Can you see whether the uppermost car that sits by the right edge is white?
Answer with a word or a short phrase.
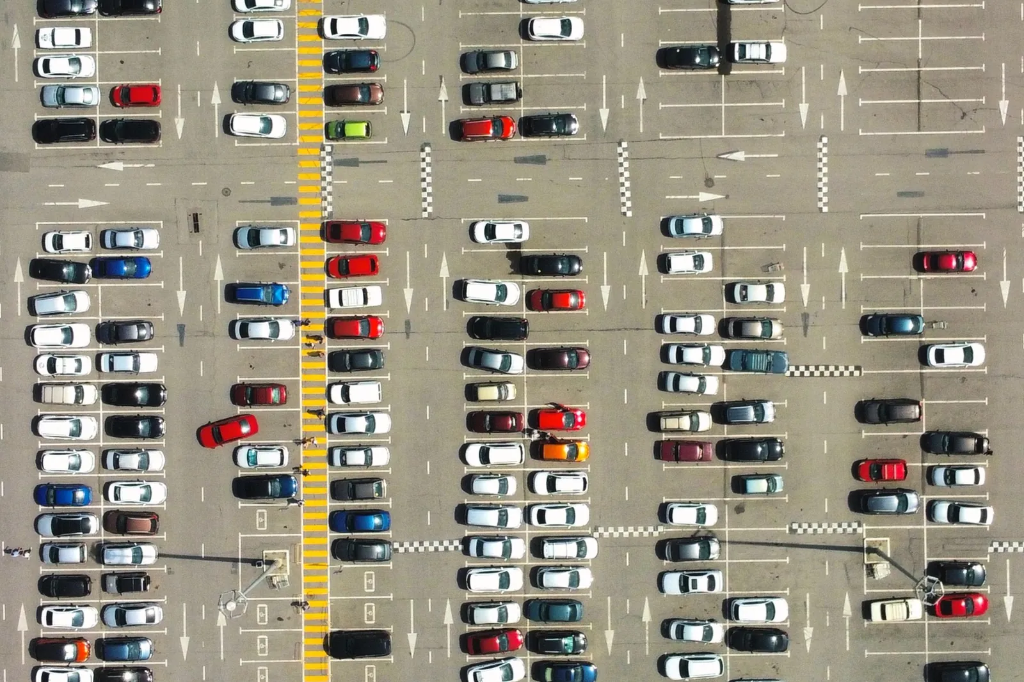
No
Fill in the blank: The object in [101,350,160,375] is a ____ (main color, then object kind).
white car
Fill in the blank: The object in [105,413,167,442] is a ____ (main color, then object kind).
black car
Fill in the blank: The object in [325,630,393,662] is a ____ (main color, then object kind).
black car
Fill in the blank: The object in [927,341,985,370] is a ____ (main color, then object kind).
white car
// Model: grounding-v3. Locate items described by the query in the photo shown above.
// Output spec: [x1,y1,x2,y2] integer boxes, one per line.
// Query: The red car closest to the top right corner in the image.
[922,248,977,275]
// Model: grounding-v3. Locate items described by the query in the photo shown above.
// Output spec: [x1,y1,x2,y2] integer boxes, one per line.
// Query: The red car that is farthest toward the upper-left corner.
[112,82,162,109]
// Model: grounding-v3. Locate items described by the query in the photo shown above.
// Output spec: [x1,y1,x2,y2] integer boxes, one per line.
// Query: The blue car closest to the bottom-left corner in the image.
[102,636,154,664]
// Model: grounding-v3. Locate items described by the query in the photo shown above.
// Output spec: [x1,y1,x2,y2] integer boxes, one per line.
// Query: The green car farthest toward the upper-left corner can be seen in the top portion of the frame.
[325,117,372,143]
